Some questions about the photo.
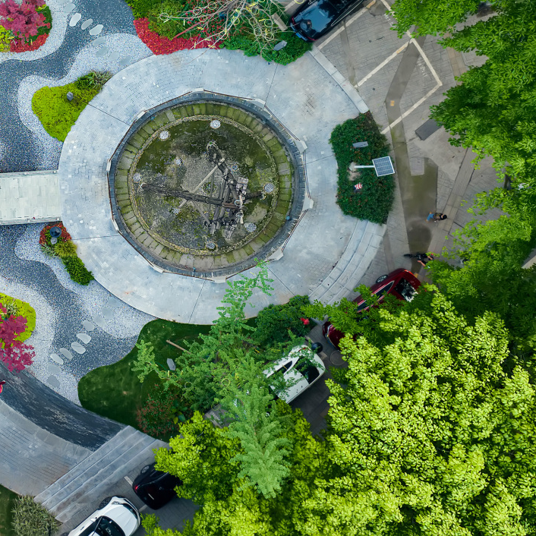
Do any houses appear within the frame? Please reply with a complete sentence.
No, I find no house anywhere in the image.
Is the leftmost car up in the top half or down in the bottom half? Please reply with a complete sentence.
You can find the leftmost car in the bottom half.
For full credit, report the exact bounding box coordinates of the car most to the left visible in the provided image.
[55,485,139,536]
